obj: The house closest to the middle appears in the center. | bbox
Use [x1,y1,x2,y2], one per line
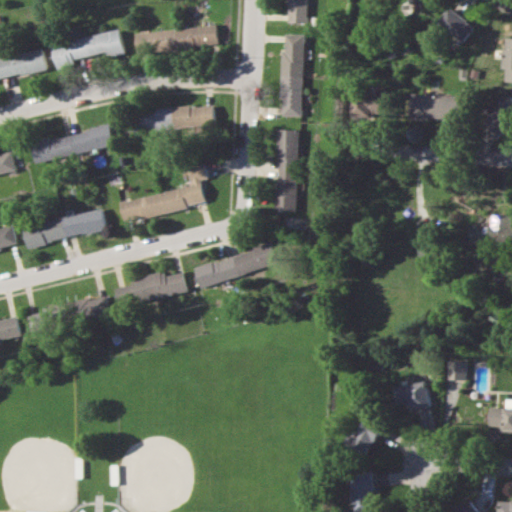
[194,246,276,288]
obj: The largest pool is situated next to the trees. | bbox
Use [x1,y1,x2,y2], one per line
[476,366,490,395]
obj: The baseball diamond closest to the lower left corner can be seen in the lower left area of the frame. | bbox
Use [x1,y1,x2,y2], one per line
[0,376,79,512]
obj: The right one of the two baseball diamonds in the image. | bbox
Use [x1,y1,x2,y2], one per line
[76,318,328,512]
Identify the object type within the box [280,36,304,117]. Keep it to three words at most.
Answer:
house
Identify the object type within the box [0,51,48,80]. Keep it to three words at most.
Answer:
house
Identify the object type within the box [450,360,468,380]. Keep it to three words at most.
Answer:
building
